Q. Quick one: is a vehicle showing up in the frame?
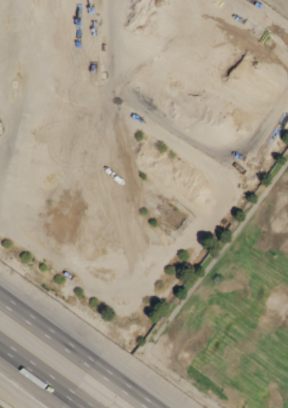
Yes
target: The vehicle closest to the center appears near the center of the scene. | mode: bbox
[104,164,127,186]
